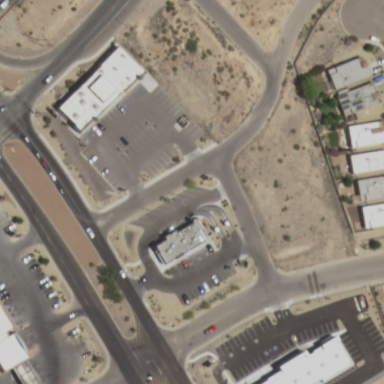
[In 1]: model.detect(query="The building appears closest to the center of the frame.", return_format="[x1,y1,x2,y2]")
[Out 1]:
[156,218,208,268]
